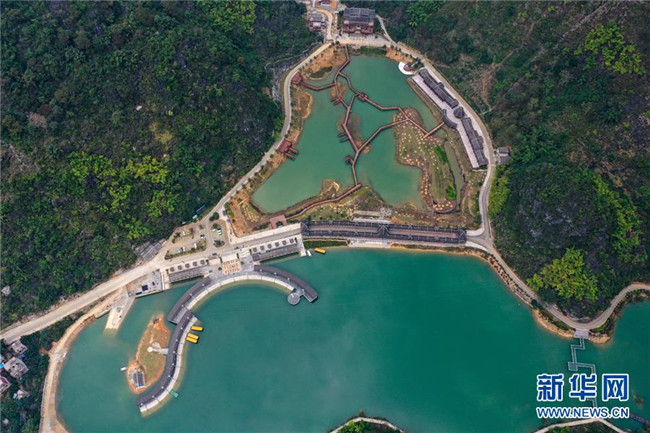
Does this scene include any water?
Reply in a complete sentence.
Yes, there's water in this view.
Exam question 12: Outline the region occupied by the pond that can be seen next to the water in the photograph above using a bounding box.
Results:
[251,52,446,214]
